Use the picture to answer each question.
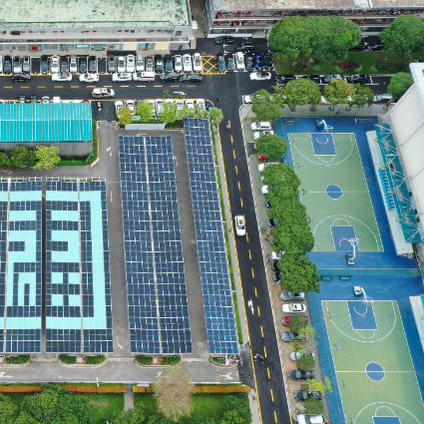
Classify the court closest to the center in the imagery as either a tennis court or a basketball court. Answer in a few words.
basketball court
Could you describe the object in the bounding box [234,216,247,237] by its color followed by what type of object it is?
white vehicle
